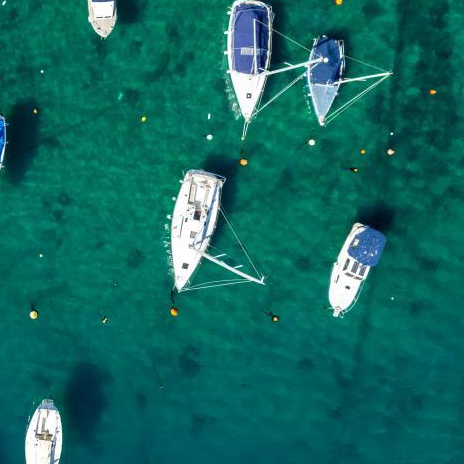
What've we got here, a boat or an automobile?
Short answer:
boat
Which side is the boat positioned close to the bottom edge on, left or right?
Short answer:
left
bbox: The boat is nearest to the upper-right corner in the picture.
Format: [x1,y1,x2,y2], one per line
[303,34,394,127]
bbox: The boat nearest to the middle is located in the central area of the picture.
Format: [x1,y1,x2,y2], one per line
[165,169,266,305]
